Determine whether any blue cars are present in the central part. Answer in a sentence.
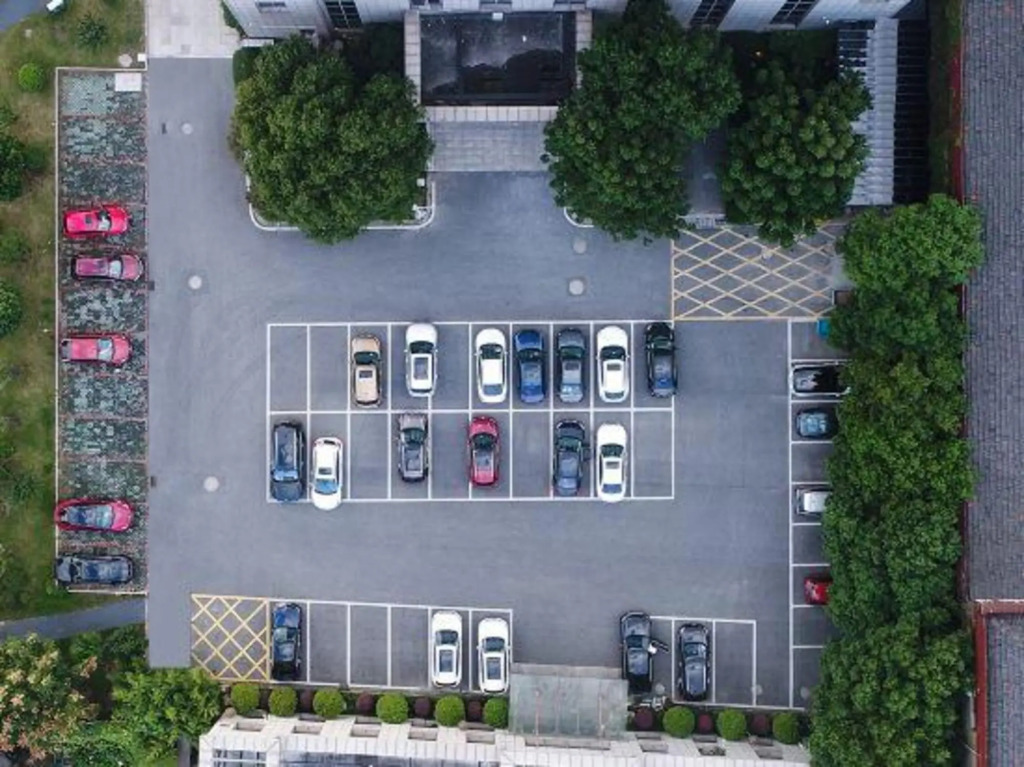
Yes, a blue car is visible in the central part.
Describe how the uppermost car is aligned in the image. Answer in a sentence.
The uppermost car is oriented from left to right.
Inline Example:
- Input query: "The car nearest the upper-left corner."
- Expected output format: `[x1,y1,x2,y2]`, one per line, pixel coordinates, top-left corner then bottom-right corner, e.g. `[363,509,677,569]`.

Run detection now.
[62,204,132,240]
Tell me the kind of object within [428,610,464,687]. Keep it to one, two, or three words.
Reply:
car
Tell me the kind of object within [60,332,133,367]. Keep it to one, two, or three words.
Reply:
car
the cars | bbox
[308,435,344,511]
[466,414,503,487]
[674,622,711,700]
[428,610,464,687]
[68,249,145,285]
[793,484,853,516]
[267,600,305,681]
[474,616,511,693]
[402,322,439,397]
[595,325,630,403]
[788,364,859,397]
[394,410,431,483]
[512,329,547,404]
[552,418,588,496]
[792,408,859,439]
[553,329,588,404]
[269,421,307,501]
[55,498,136,534]
[643,322,679,399]
[60,332,133,367]
[594,422,629,502]
[348,334,384,406]
[473,328,509,404]
[618,611,666,694]
[62,204,132,240]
